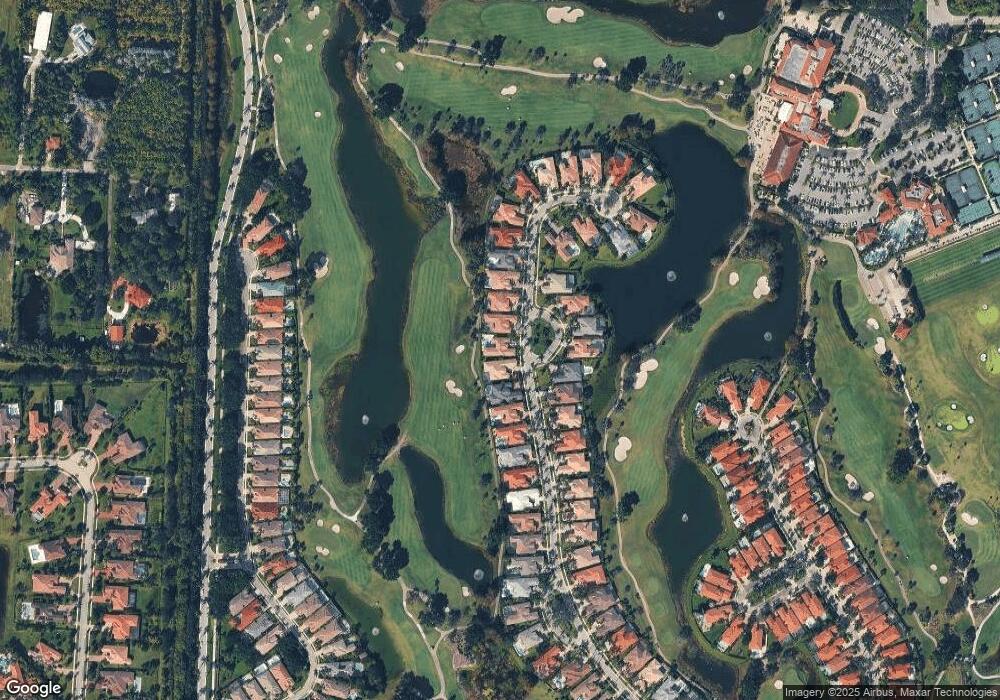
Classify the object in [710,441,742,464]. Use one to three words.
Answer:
house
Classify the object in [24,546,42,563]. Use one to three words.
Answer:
swimming pool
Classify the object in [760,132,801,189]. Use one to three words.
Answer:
building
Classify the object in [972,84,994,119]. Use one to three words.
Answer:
tennis court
